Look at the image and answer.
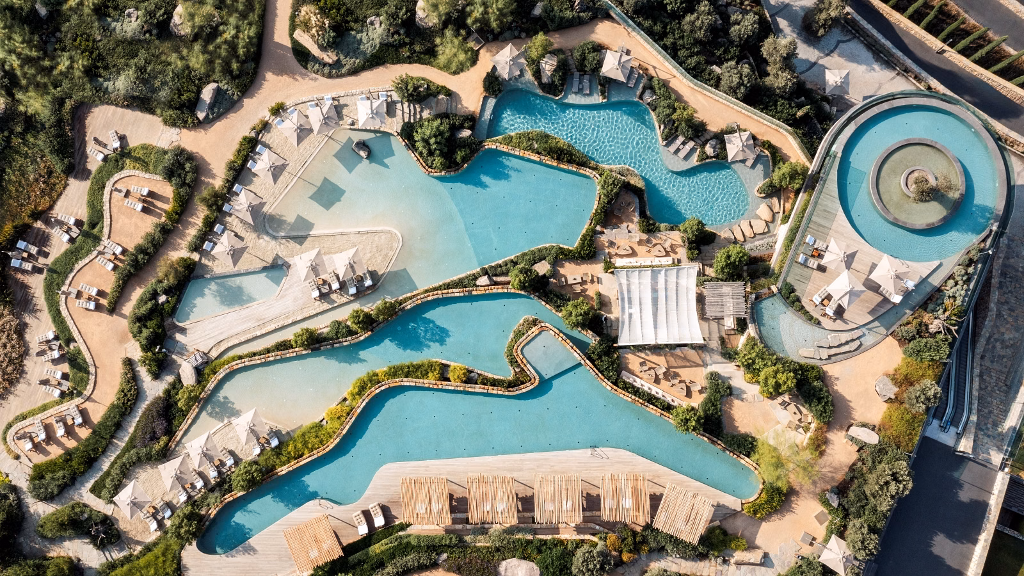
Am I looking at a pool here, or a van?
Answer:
pool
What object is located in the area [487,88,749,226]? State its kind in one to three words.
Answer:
swimming pool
